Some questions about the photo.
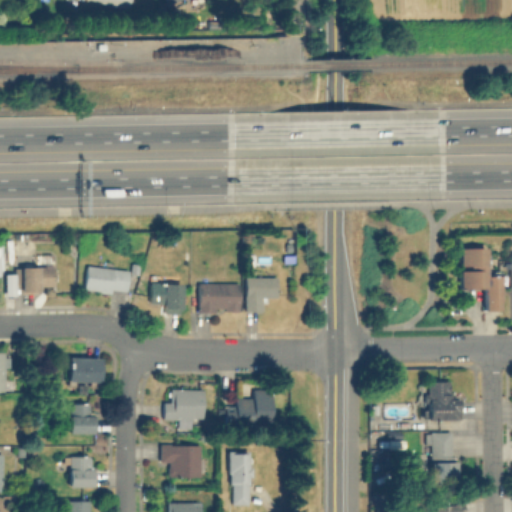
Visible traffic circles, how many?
0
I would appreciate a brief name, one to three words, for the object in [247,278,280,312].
house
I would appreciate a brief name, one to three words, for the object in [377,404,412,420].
swimming pool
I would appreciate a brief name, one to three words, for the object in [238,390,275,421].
house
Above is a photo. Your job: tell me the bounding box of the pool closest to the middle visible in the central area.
[252,255,273,267]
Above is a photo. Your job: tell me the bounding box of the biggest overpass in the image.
[229,108,446,212]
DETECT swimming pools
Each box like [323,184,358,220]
[252,255,273,267]
[377,404,412,420]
